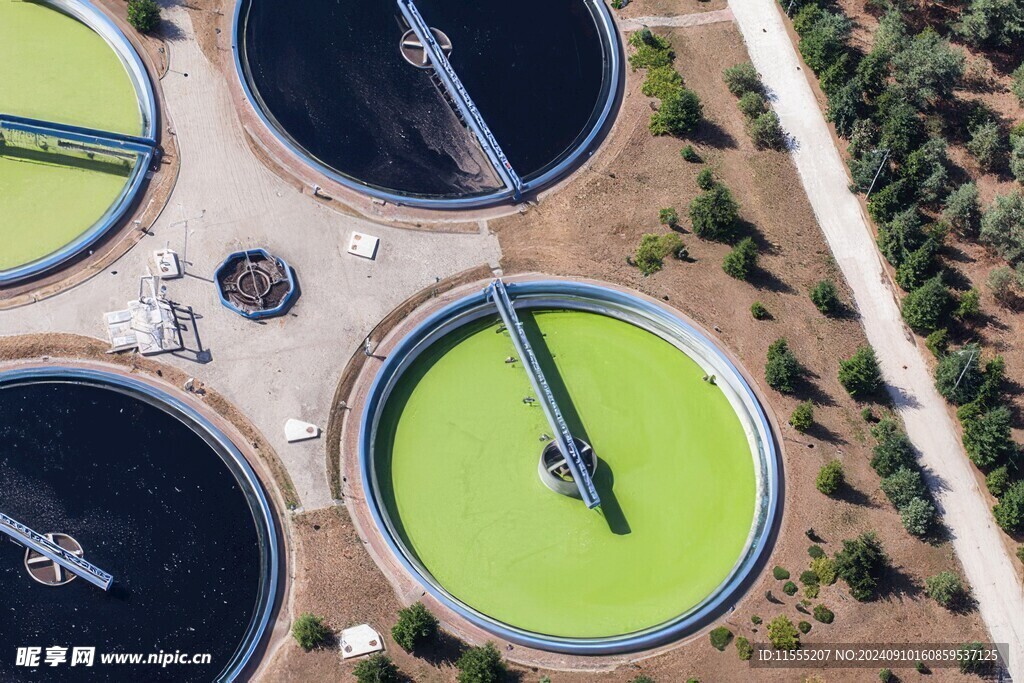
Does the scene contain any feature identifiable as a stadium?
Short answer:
No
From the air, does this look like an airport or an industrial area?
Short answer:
industrial area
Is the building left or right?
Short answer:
left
